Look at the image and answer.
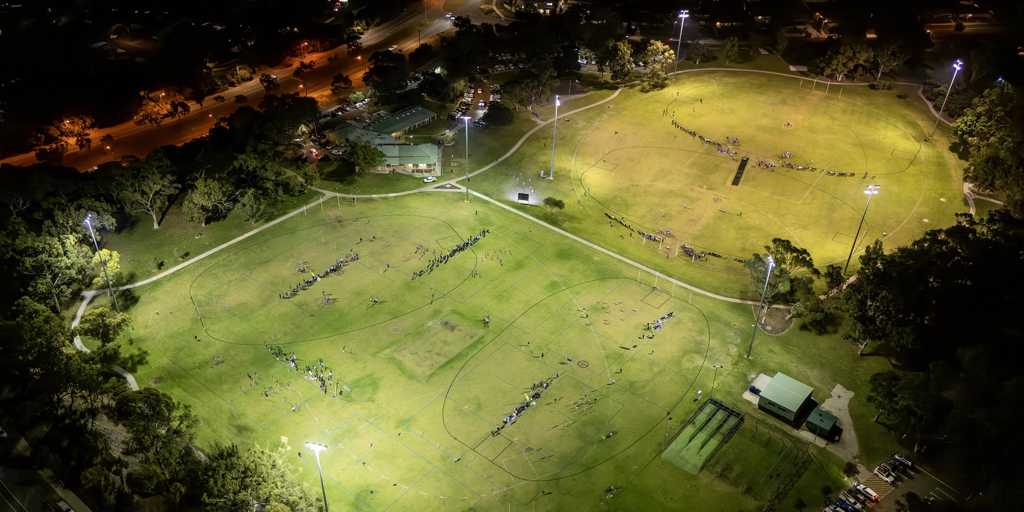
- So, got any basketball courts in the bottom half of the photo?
No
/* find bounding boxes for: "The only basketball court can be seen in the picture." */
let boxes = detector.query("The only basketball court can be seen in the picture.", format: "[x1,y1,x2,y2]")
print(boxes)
[535,80,595,107]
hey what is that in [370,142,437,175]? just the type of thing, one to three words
building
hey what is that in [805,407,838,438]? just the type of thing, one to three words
shed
